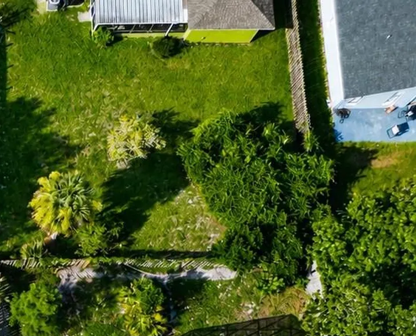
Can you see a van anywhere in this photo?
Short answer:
No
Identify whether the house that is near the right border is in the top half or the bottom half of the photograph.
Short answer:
top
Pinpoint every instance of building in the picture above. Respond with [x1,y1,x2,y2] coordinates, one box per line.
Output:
[320,0,416,117]
[85,0,276,47]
